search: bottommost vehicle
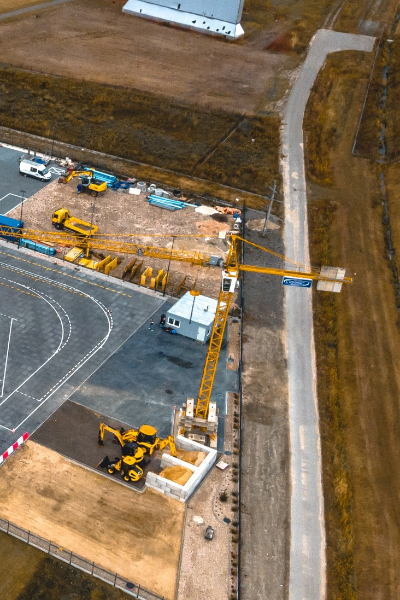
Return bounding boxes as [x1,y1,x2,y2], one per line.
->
[97,453,144,485]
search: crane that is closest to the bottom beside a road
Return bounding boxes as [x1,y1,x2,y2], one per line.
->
[0,222,352,460]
